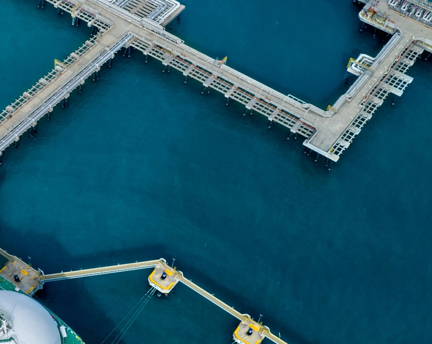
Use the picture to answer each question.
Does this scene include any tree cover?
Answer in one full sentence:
No, no tree cover is visible.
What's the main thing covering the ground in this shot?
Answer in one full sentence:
Most of the picture is covered by water.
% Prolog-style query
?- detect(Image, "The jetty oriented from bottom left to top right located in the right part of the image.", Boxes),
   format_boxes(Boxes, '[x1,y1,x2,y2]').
[302,38,425,171]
